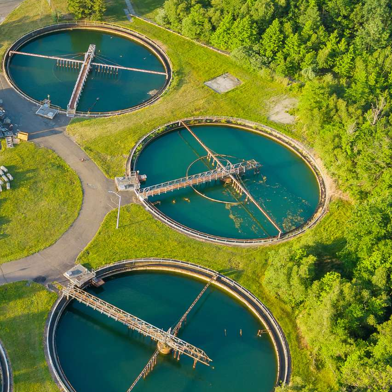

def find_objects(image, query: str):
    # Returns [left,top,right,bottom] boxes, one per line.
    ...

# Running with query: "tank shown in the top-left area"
[3,20,173,121]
